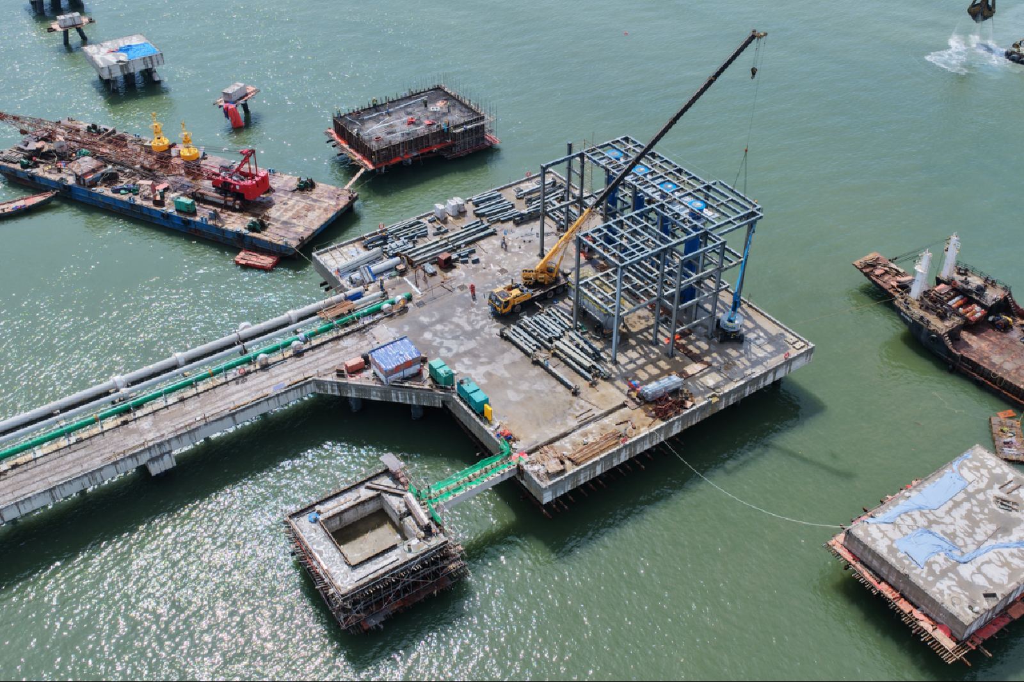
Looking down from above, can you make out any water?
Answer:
Yes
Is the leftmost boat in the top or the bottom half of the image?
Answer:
top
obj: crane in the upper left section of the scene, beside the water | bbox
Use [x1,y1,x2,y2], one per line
[0,109,274,210]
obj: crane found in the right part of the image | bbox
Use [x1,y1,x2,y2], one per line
[482,34,769,316]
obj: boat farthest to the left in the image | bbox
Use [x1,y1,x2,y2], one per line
[0,185,59,220]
